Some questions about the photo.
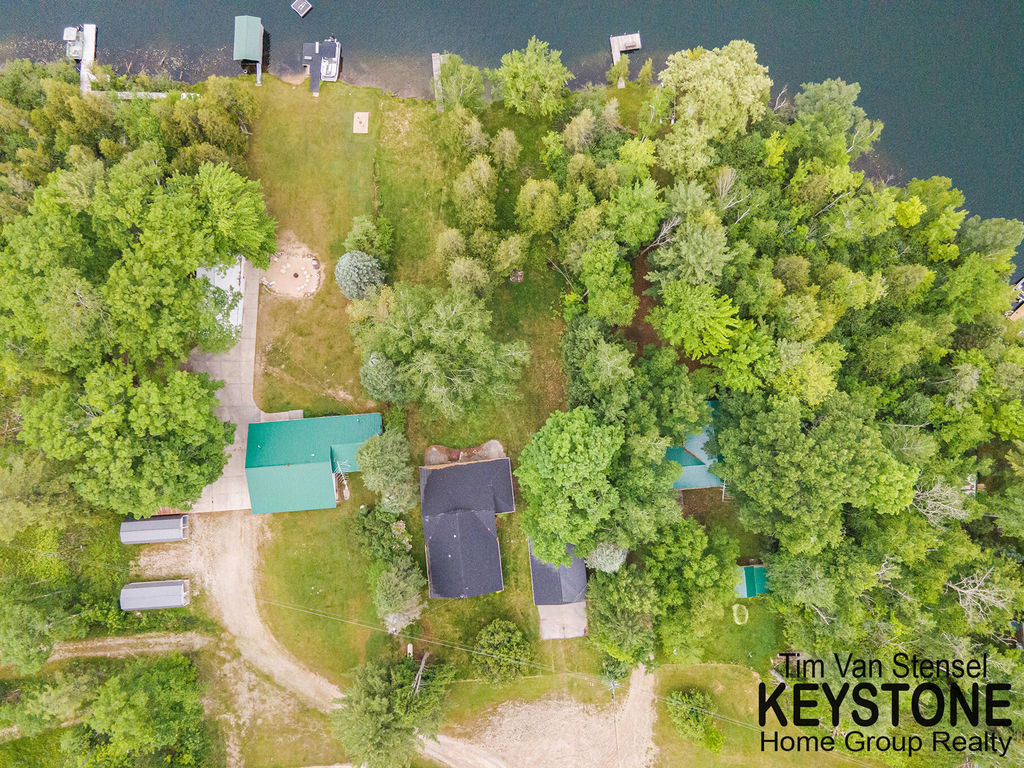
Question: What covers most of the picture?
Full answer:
For the most part, this view shows trees.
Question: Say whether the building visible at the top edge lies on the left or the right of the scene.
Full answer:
The building visible at the top edge appears in the left half of the scene.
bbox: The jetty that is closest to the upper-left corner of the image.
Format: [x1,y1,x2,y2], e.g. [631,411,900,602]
[79,24,99,93]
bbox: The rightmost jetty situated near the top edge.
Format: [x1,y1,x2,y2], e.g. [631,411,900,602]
[610,31,641,54]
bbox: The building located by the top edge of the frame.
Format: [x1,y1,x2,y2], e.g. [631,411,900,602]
[233,15,269,71]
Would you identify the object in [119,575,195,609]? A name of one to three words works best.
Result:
shed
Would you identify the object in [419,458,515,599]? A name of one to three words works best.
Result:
house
